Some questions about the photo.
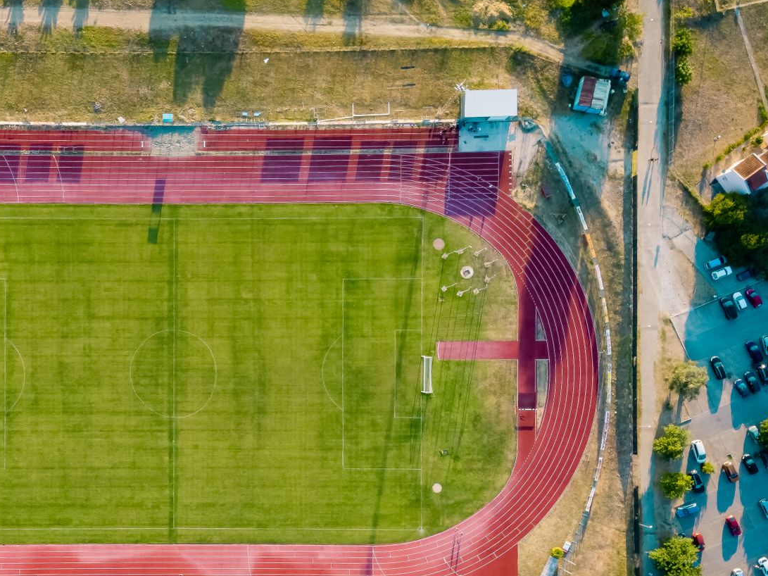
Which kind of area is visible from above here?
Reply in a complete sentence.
This image shows a sports ground.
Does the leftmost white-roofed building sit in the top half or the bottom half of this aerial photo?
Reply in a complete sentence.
The leftmost white-roofed building is in the top half of the image.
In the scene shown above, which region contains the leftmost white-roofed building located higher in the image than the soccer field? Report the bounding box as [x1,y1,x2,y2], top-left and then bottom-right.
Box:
[458,91,518,122]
